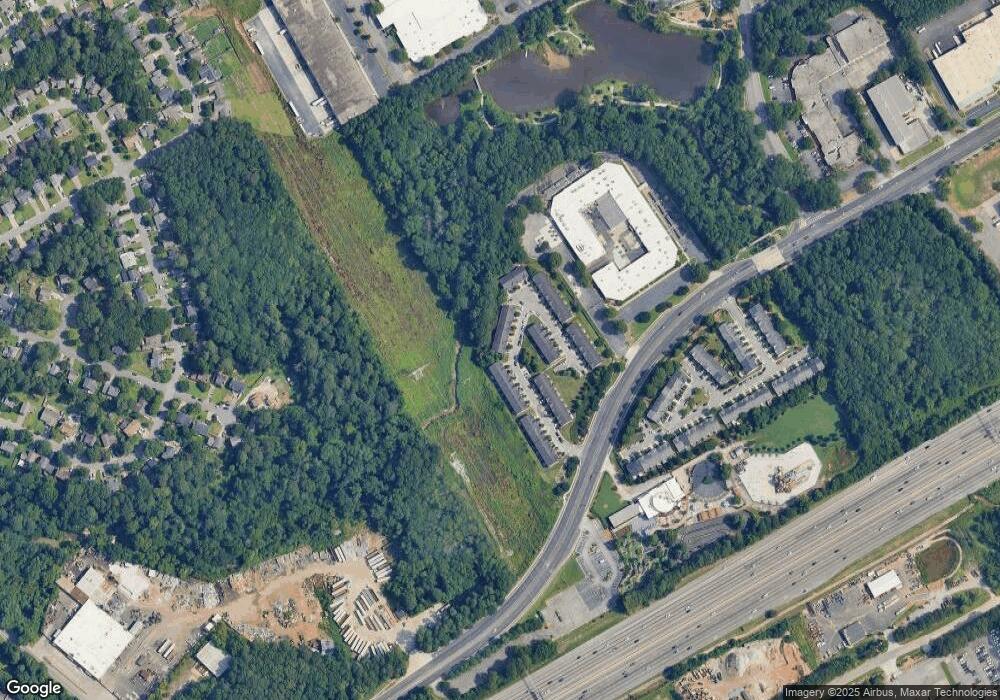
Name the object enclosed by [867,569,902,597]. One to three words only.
barn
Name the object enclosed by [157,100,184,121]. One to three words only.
house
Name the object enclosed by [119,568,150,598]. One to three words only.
shed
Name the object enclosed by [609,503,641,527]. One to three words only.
building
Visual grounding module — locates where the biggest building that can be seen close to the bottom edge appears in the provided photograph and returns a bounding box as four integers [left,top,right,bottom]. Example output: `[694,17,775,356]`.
[52,599,133,679]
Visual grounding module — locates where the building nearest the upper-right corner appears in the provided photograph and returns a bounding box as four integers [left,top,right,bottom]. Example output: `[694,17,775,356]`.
[933,3,1000,108]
